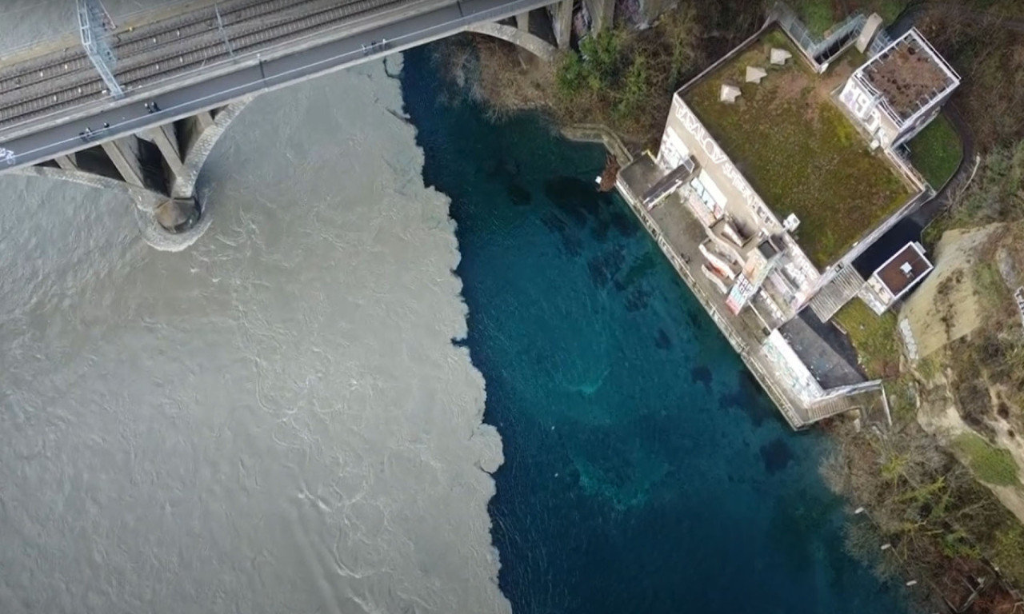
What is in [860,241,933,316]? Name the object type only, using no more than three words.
shed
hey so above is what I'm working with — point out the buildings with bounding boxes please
[658,24,931,350]
[860,241,933,316]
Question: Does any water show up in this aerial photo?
Yes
